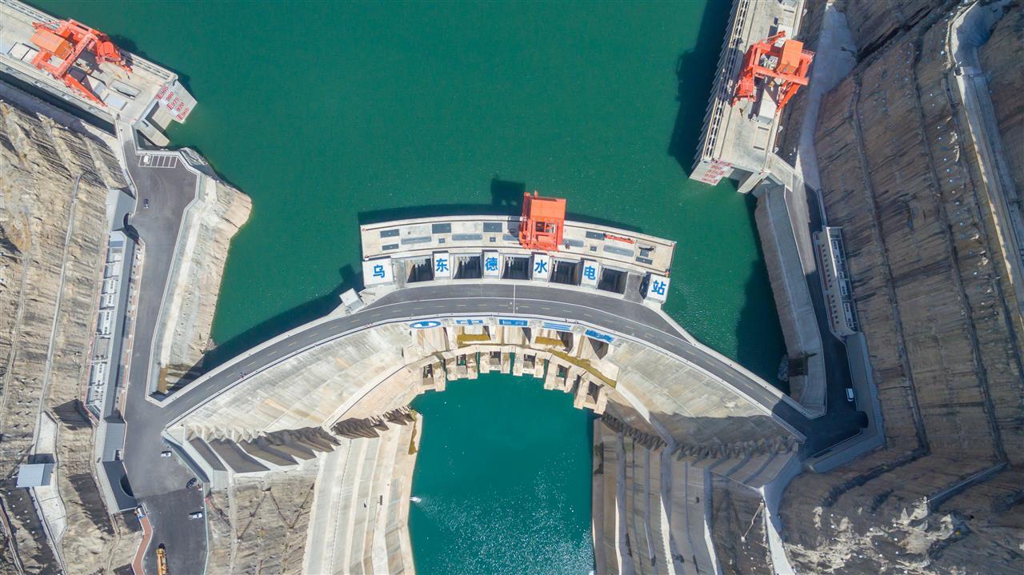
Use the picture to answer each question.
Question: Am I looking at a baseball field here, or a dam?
dam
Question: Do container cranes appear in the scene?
Yes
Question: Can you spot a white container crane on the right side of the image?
No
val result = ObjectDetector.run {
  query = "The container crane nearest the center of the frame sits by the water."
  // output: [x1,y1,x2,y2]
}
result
[515,192,566,250]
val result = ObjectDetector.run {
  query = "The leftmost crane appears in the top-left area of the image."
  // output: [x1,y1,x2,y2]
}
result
[26,15,133,109]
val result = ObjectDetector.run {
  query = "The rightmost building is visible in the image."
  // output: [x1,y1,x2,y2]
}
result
[820,226,858,335]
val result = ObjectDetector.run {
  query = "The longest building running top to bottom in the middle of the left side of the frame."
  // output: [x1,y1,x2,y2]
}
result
[84,234,135,416]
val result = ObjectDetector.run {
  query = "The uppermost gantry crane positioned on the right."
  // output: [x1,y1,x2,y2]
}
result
[731,32,818,119]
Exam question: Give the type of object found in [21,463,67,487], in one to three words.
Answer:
shed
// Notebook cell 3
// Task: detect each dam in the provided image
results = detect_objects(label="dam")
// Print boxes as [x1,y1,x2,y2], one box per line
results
[162,213,811,454]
